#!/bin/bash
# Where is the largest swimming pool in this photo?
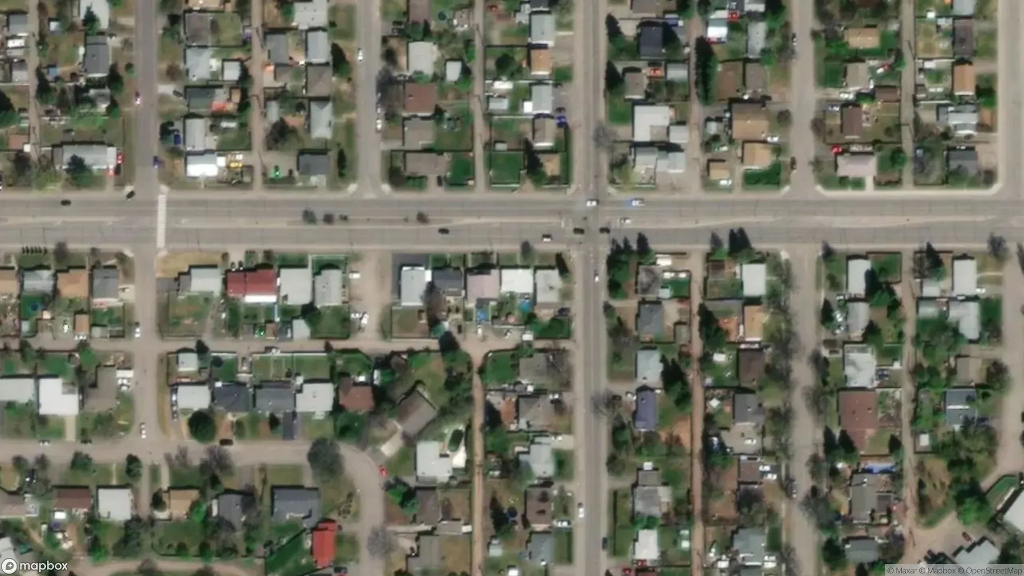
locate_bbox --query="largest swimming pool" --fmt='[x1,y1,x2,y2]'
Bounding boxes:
[449,428,463,451]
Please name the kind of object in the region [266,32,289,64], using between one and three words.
building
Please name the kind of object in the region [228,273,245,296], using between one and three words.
house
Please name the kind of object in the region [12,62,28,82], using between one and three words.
building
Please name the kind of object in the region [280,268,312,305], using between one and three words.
house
